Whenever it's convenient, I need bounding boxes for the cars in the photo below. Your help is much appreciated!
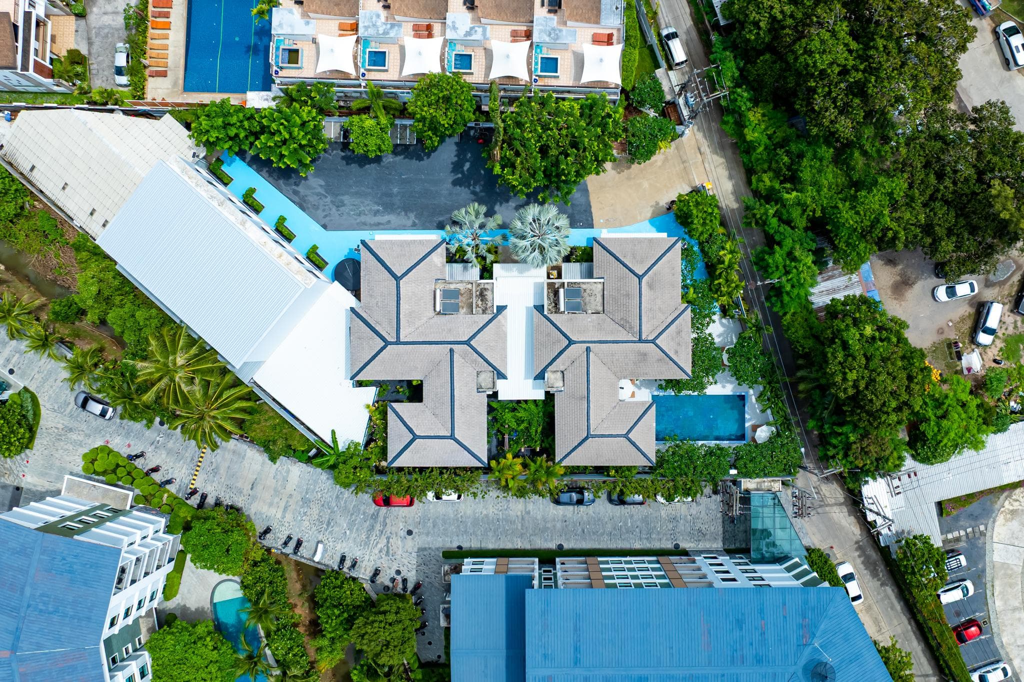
[553,487,595,507]
[930,549,969,577]
[608,488,646,508]
[655,489,695,509]
[939,577,975,606]
[374,490,415,509]
[949,618,987,647]
[111,43,134,88]
[931,279,979,302]
[659,26,689,71]
[426,487,464,506]
[972,300,1006,347]
[74,392,116,420]
[966,659,1013,682]
[993,20,1024,73]
[835,561,864,606]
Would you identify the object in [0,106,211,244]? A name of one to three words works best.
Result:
warehouse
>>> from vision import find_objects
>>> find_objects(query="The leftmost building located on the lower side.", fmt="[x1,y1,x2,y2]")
[0,481,181,682]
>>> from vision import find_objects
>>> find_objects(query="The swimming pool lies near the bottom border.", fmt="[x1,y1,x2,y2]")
[210,577,278,682]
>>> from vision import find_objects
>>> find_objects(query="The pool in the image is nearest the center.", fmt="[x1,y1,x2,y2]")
[649,392,747,444]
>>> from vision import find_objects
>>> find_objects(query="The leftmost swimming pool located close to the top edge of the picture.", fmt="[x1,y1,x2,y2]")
[180,0,274,95]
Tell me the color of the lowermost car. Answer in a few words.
white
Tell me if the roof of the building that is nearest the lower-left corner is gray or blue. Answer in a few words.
blue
